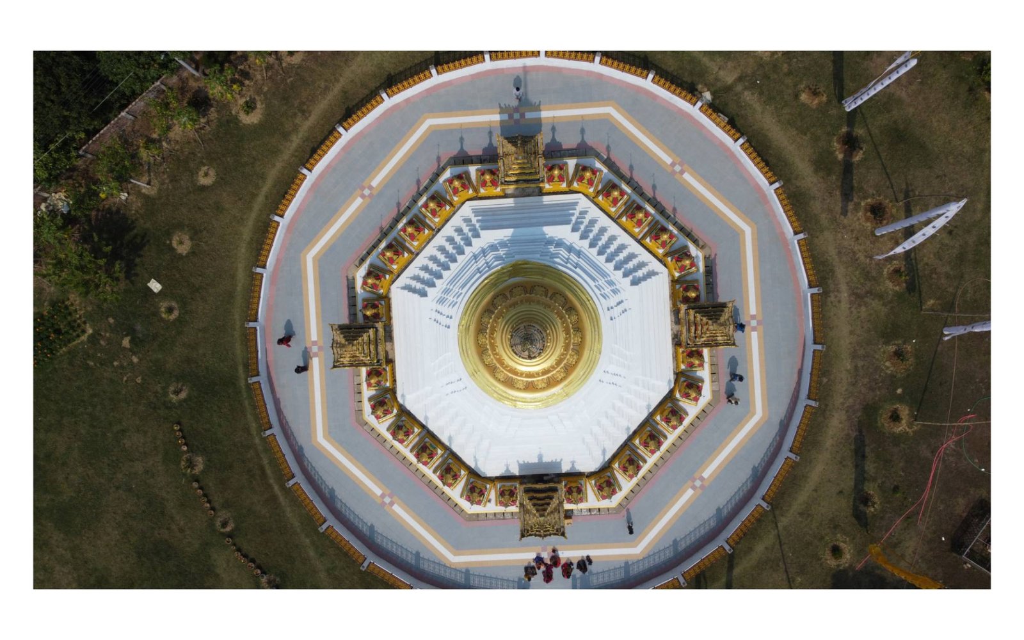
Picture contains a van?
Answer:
No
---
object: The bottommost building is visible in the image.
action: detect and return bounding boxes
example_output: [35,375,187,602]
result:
[514,482,569,541]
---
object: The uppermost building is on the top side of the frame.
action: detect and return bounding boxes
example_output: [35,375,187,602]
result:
[493,130,547,191]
